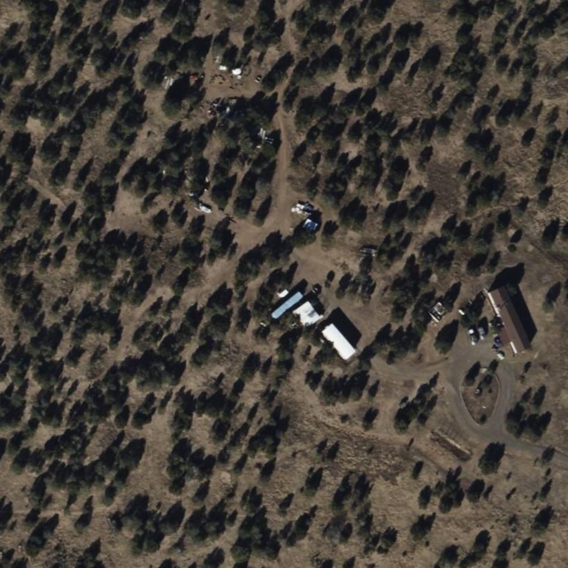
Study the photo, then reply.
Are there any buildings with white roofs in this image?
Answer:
Yes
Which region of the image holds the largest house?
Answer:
right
